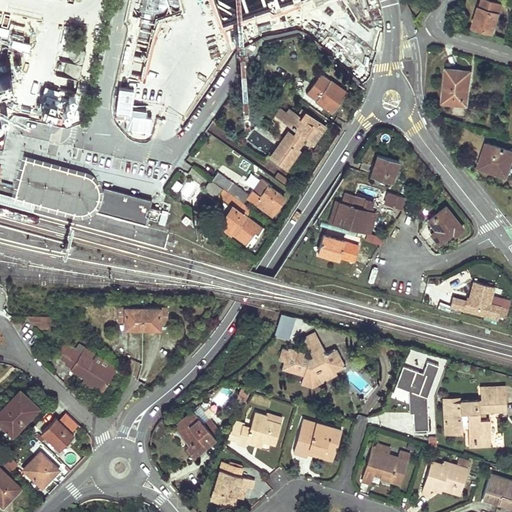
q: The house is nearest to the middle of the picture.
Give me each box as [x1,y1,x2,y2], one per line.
[223,208,263,247]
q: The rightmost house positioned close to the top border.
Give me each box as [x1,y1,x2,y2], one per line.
[472,0,504,36]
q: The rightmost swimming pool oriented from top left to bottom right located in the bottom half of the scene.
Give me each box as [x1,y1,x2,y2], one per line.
[347,370,370,392]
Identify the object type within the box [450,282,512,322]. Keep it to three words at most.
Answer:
house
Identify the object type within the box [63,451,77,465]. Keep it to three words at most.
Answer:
swimming pool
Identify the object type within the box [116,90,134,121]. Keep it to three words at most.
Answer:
building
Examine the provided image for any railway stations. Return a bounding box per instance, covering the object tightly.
[12,153,102,221]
